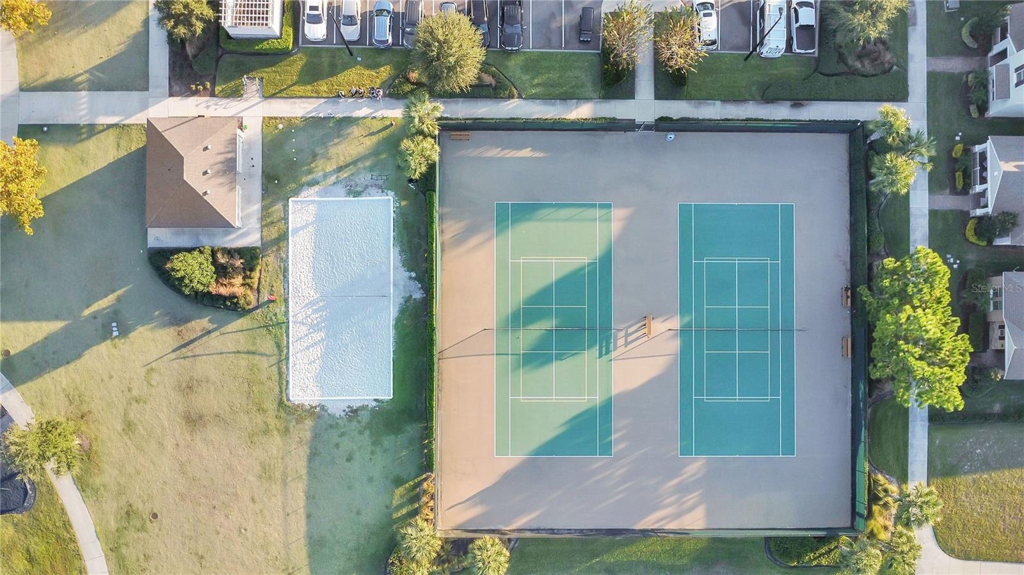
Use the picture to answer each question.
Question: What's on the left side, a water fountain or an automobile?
automobile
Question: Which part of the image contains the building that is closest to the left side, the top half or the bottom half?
top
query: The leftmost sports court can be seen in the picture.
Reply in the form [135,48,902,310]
[288,196,394,402]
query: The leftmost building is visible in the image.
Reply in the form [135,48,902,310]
[145,115,248,229]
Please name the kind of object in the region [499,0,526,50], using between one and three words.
truck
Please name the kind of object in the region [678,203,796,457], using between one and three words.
tennis court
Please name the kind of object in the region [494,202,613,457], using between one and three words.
tennis court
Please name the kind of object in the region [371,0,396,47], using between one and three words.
car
